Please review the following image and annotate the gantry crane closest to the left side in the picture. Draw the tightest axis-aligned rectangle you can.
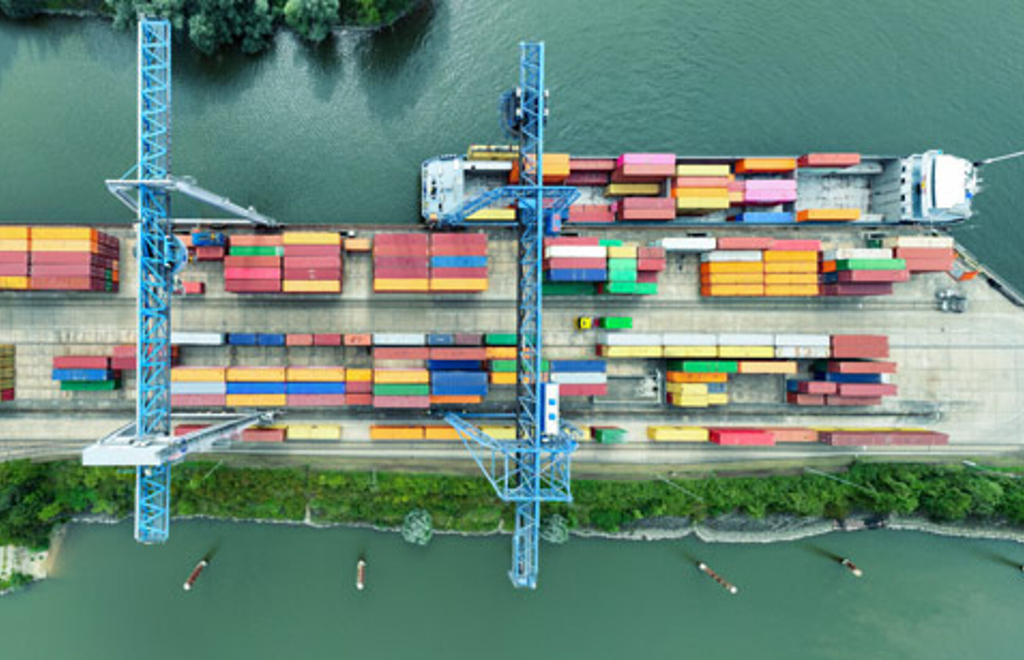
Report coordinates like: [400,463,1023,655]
[83,11,287,547]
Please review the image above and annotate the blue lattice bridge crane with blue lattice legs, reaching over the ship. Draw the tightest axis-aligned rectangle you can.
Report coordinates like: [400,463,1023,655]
[422,41,585,589]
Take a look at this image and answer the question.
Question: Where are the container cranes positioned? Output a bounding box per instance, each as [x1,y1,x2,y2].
[83,11,287,547]
[422,41,585,589]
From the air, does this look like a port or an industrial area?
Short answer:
port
